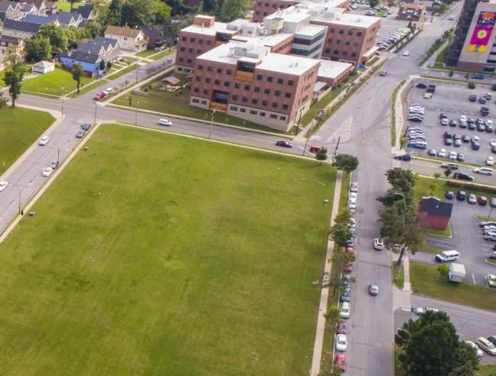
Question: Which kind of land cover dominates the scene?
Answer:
grass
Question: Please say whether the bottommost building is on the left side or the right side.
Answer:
right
